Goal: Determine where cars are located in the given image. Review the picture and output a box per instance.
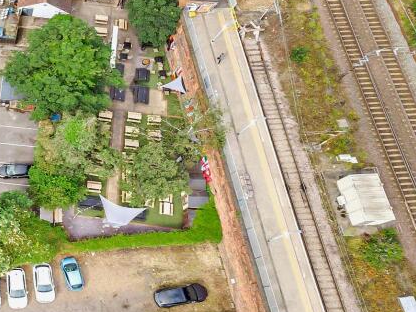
[33,263,55,304]
[152,282,210,311]
[6,268,29,309]
[0,161,34,180]
[60,256,83,292]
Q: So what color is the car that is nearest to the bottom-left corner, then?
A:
white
